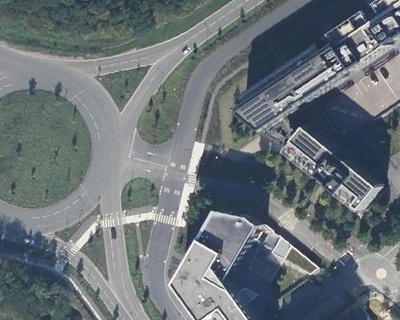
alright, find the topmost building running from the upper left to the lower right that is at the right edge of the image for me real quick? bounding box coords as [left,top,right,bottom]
[280,126,385,212]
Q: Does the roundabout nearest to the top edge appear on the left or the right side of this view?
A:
left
